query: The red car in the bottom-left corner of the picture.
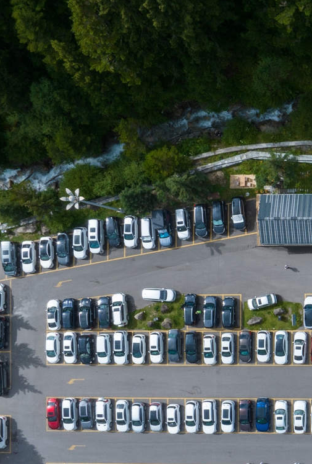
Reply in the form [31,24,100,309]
[47,397,63,429]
